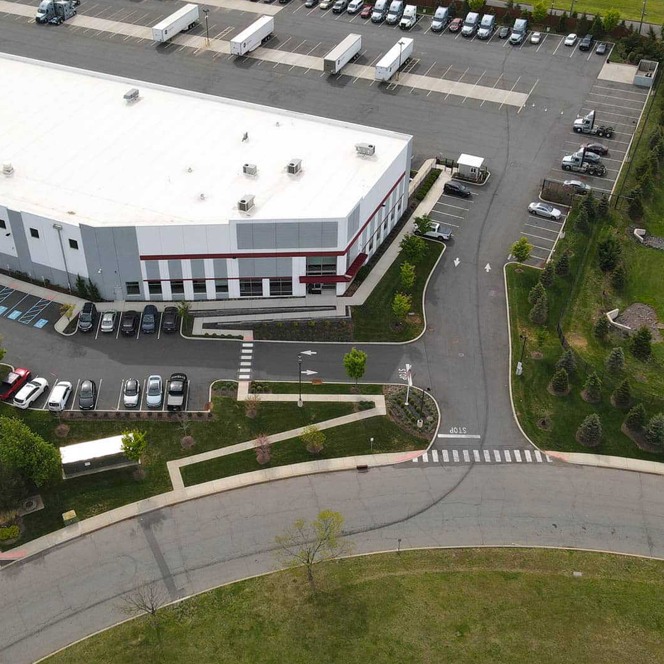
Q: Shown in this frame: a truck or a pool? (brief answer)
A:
truck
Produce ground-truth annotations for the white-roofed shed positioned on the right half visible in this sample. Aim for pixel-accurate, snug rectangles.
[453,154,490,185]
